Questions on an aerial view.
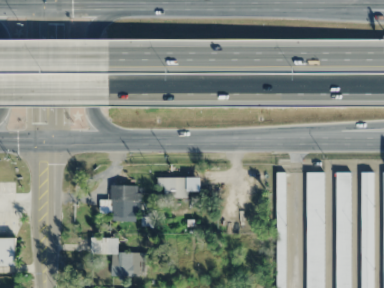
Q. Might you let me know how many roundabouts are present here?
zero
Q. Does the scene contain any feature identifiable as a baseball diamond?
No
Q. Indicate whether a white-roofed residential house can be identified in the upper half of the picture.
No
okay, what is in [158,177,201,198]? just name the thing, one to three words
house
